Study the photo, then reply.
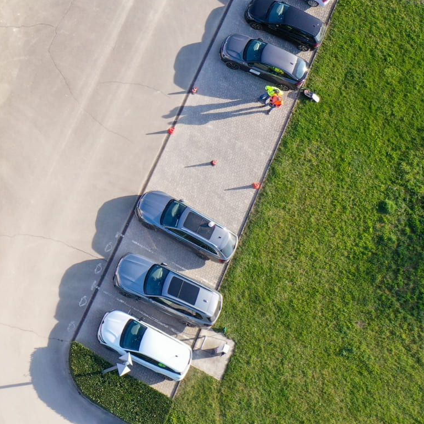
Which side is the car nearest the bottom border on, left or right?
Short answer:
left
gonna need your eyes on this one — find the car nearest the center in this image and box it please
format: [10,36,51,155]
[133,193,243,268]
